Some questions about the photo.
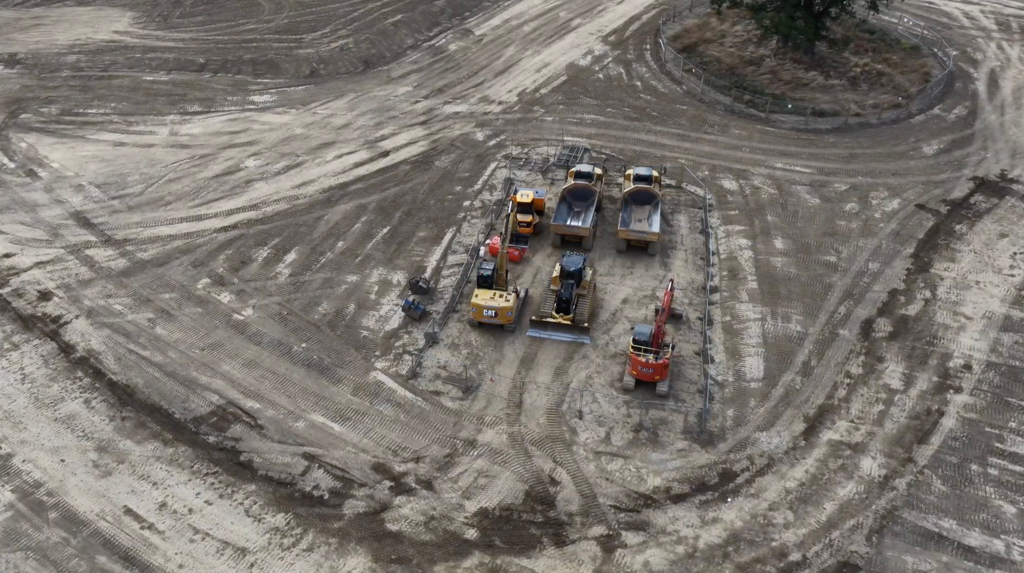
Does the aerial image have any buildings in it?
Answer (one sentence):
No, I can see no building in this picture.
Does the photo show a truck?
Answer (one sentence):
Yes, the photo shows a truck.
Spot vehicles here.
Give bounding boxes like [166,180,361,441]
[506,184,547,237]
[623,270,684,394]
[527,250,597,346]
[550,161,609,249]
[468,198,530,329]
[618,164,667,253]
